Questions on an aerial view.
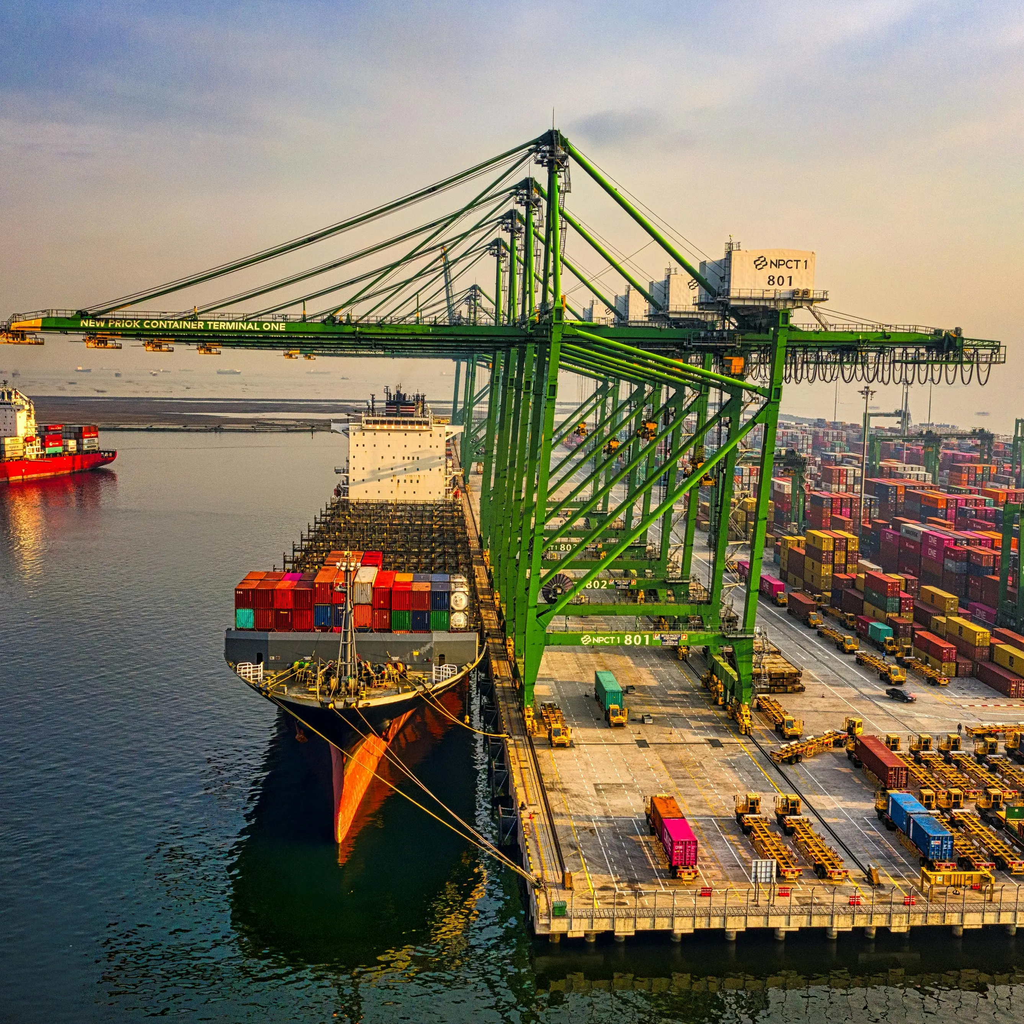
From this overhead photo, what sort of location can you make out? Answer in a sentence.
This image shows a port.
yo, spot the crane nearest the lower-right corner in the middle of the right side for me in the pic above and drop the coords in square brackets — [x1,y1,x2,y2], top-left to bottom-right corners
[993,504,1024,634]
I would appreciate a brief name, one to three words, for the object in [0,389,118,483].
ship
